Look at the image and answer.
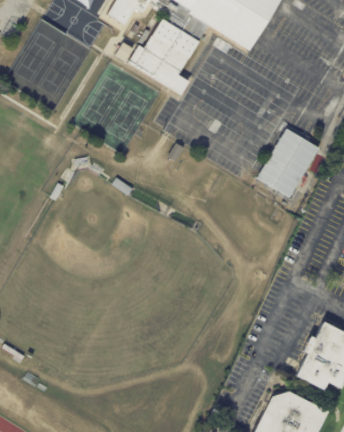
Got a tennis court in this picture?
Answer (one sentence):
Yes, you can see a tennis court in this photo.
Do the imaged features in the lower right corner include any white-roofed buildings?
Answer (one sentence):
Yes, I can see a white-roofed building in the lower right corner.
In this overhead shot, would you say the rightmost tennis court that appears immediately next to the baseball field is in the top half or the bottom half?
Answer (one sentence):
You can find the rightmost tennis court that appears immediately next to the baseball field in the top half.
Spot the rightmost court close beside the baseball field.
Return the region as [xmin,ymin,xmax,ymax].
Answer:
[74,59,160,151]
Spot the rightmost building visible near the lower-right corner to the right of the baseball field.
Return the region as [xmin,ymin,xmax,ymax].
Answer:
[294,322,344,390]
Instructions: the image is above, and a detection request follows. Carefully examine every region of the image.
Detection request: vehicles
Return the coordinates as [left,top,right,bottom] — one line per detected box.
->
[256,314,266,322]
[286,358,299,368]
[284,256,294,264]
[290,248,299,254]
[248,334,258,342]
[252,324,262,332]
